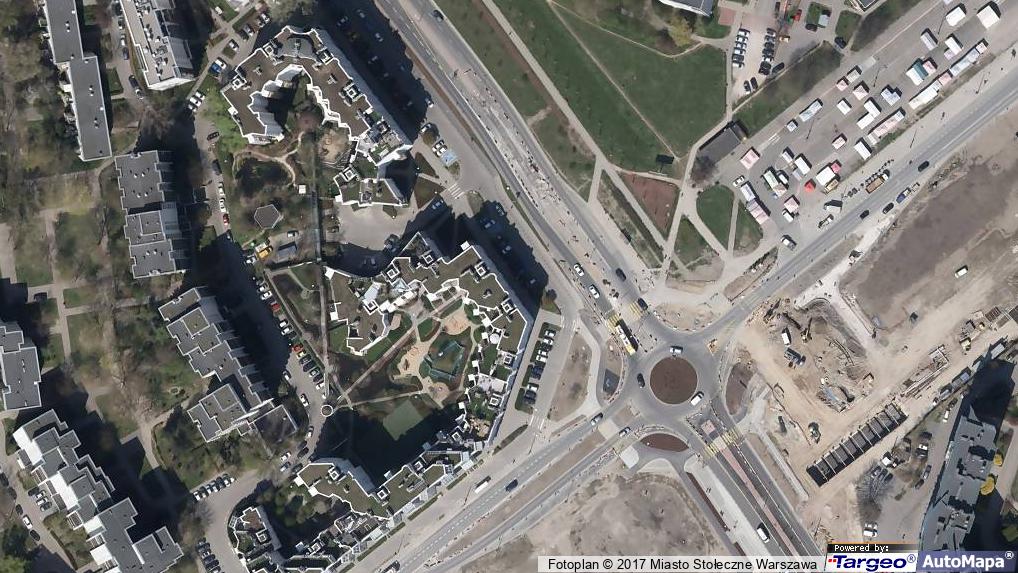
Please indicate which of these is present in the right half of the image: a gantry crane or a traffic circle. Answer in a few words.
traffic circle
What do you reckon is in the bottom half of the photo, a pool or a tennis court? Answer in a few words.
tennis court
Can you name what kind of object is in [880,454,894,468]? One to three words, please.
vehicle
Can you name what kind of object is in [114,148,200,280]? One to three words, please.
building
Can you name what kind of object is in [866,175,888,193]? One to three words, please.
vehicle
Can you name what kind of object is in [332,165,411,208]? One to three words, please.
house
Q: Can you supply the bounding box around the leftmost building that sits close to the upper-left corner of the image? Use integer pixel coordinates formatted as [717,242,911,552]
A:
[44,0,122,161]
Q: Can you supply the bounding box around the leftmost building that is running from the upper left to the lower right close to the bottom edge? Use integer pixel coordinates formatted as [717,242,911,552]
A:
[14,402,196,573]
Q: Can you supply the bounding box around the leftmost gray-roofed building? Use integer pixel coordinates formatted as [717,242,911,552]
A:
[0,320,57,410]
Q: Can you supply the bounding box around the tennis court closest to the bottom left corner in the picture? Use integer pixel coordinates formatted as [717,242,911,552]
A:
[383,400,424,441]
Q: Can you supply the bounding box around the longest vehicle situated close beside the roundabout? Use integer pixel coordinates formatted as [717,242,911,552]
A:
[615,322,635,352]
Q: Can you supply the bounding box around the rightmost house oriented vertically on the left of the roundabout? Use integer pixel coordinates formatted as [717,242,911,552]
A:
[455,298,529,444]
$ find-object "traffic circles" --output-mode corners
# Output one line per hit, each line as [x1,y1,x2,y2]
[626,333,721,427]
